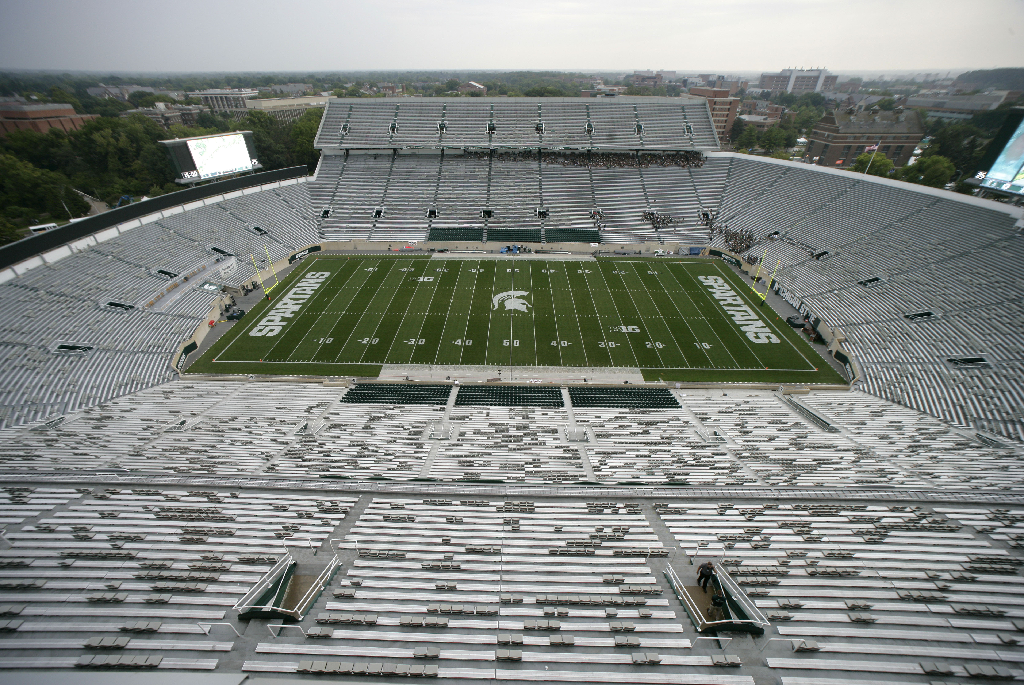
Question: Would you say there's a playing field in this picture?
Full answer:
Yes, the photo shows a playing field.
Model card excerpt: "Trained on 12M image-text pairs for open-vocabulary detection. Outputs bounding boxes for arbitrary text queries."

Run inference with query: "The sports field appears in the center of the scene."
[180,254,847,383]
